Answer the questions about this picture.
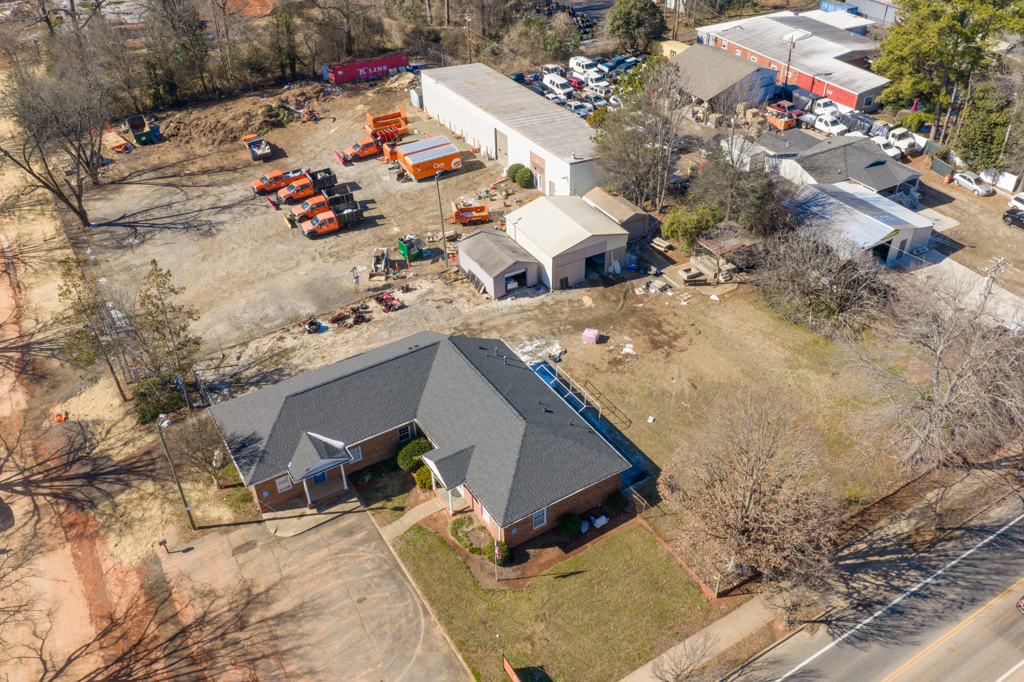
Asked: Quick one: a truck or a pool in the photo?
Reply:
truck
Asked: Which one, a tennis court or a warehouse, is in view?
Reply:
warehouse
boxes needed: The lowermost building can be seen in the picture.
[208,331,632,545]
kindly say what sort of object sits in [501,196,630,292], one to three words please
barn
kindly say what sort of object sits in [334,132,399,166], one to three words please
truck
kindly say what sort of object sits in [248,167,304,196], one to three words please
truck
